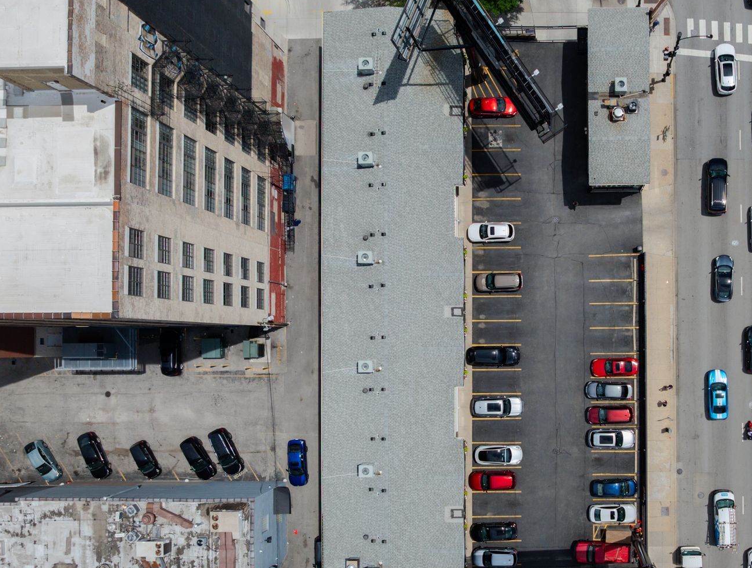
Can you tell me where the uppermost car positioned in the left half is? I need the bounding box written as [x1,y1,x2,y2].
[158,329,185,378]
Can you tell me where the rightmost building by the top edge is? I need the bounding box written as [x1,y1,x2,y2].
[586,8,651,196]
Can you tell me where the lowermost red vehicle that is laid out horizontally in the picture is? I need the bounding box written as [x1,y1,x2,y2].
[572,540,632,566]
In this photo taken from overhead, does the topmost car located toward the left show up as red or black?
black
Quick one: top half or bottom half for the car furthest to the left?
bottom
